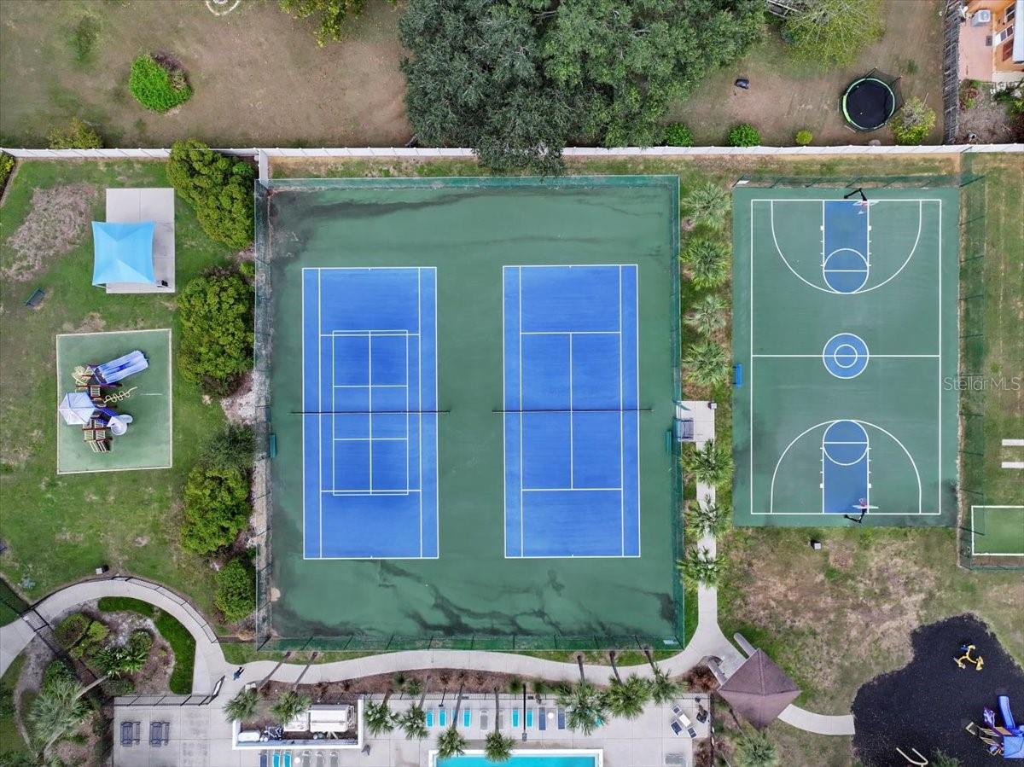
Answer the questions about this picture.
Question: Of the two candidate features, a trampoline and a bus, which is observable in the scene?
trampoline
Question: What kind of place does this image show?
sports ground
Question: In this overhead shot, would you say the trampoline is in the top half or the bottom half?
top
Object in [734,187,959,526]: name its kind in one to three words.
basketball court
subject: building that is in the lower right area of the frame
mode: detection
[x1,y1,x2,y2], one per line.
[711,638,802,731]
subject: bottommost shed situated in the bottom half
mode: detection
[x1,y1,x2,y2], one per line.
[308,705,349,732]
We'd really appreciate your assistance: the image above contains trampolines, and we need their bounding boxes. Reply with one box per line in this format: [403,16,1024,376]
[838,67,905,133]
